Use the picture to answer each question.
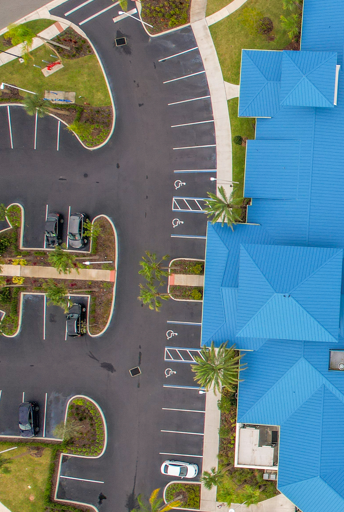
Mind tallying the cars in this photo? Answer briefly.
five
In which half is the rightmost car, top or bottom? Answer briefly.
bottom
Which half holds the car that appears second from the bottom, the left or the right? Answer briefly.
left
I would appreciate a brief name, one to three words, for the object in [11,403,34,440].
car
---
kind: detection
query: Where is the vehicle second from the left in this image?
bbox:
[37,212,59,249]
